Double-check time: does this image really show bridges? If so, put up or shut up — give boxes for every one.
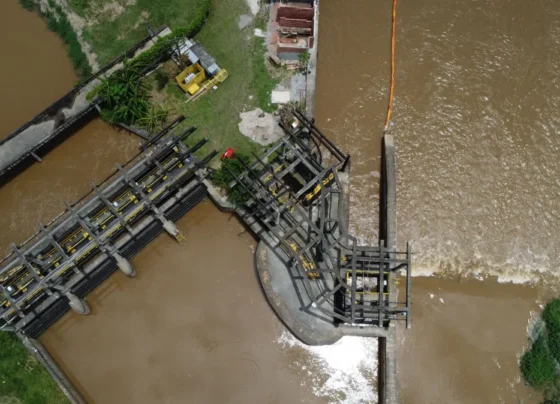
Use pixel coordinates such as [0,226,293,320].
[0,115,220,344]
